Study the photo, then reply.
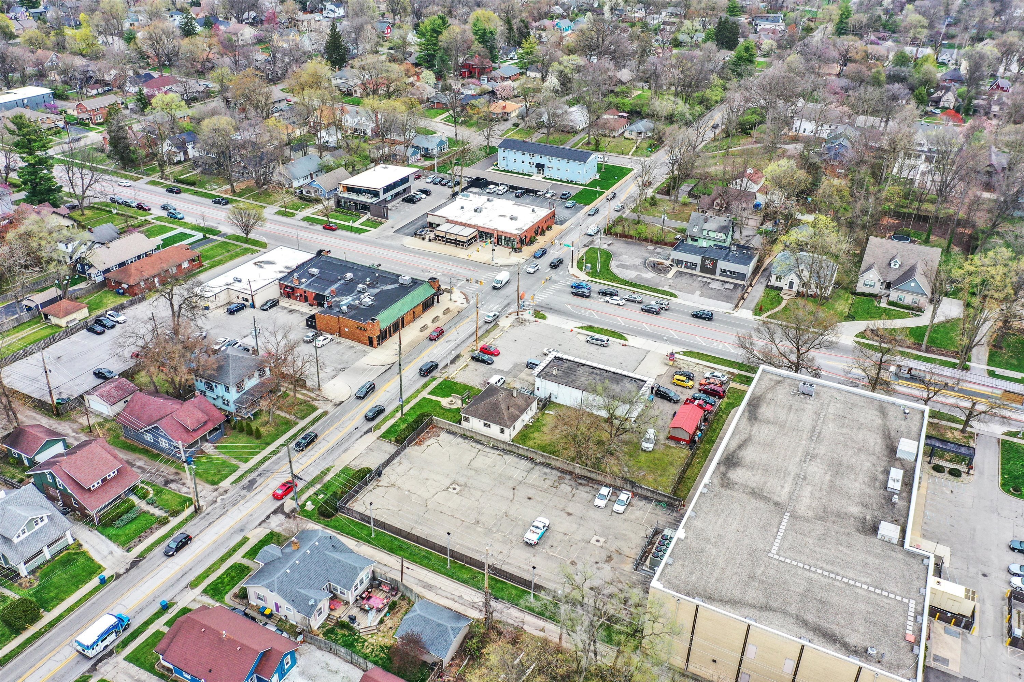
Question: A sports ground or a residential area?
residential area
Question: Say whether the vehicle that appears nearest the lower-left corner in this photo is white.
Yes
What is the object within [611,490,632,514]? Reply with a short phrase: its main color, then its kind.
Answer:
white car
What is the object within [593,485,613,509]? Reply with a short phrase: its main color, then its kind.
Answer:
white car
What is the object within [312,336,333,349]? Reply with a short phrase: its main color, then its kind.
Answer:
white vehicle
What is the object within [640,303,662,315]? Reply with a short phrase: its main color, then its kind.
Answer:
gray vehicle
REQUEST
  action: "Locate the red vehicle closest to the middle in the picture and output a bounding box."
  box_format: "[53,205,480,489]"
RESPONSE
[478,345,500,357]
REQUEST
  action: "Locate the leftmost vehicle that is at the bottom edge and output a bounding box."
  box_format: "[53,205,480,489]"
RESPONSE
[70,615,134,669]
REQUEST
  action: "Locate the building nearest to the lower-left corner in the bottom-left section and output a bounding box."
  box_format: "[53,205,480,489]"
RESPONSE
[0,487,83,589]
